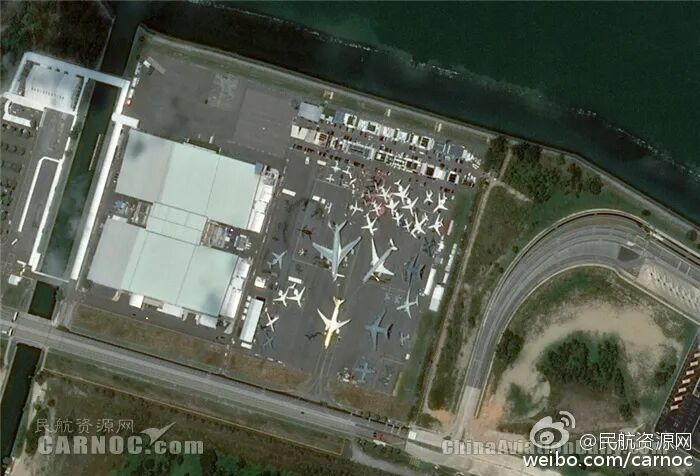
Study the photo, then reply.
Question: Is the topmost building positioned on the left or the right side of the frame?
left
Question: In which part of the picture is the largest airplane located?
center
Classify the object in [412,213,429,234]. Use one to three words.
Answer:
airplane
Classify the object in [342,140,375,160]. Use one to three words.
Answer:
house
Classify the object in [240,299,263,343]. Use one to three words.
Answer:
building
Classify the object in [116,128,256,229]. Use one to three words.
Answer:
building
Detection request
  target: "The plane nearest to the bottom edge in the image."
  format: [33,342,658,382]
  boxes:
[353,362,375,380]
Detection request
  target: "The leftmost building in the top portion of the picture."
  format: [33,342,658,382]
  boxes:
[25,64,78,110]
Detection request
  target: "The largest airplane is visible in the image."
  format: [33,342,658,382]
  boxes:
[313,220,360,279]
